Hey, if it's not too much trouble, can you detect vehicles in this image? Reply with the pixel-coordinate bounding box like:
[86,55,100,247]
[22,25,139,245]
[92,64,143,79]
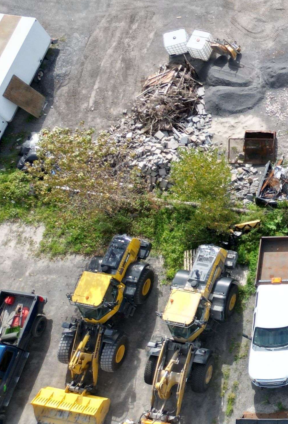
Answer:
[22,224,164,424]
[235,233,288,393]
[0,287,51,424]
[121,238,246,424]
[0,16,55,112]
